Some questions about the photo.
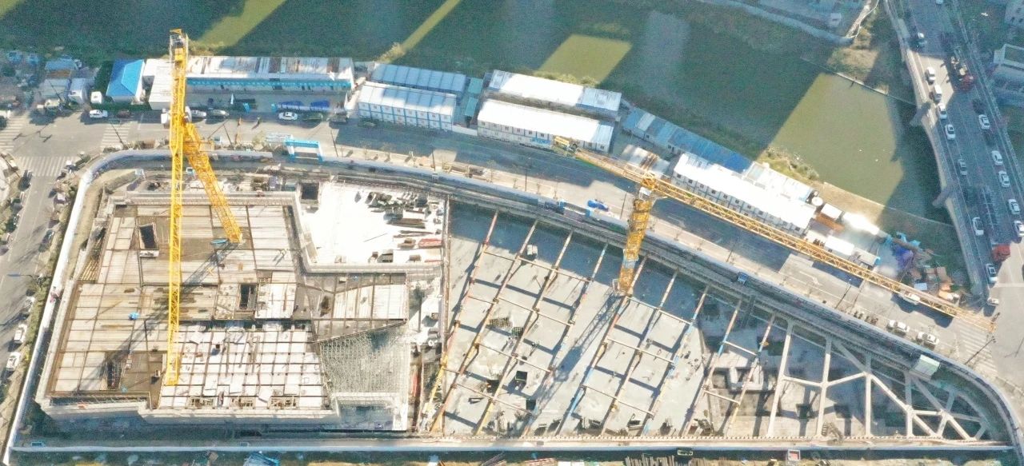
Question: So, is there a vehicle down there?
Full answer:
Yes, a vehicle appears in the view.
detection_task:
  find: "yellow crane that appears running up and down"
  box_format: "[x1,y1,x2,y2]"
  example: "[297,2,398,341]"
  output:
[162,32,243,389]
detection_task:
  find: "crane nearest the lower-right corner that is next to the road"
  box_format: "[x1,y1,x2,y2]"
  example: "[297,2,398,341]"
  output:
[554,135,997,332]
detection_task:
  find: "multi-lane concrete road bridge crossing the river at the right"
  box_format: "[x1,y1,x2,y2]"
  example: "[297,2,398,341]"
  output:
[885,0,1024,331]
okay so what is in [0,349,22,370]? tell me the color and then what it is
white car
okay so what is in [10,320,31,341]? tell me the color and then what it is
white car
